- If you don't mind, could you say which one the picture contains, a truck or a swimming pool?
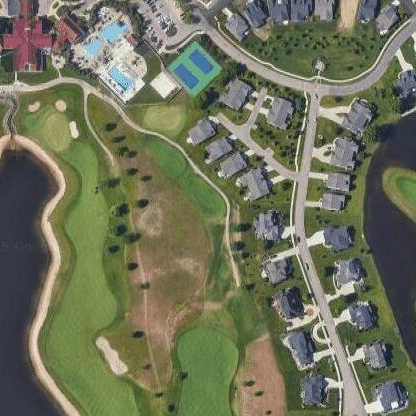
swimming pool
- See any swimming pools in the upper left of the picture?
Yes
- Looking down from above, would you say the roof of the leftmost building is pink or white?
pink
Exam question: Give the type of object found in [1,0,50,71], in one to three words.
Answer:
building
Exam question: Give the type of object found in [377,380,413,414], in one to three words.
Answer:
house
